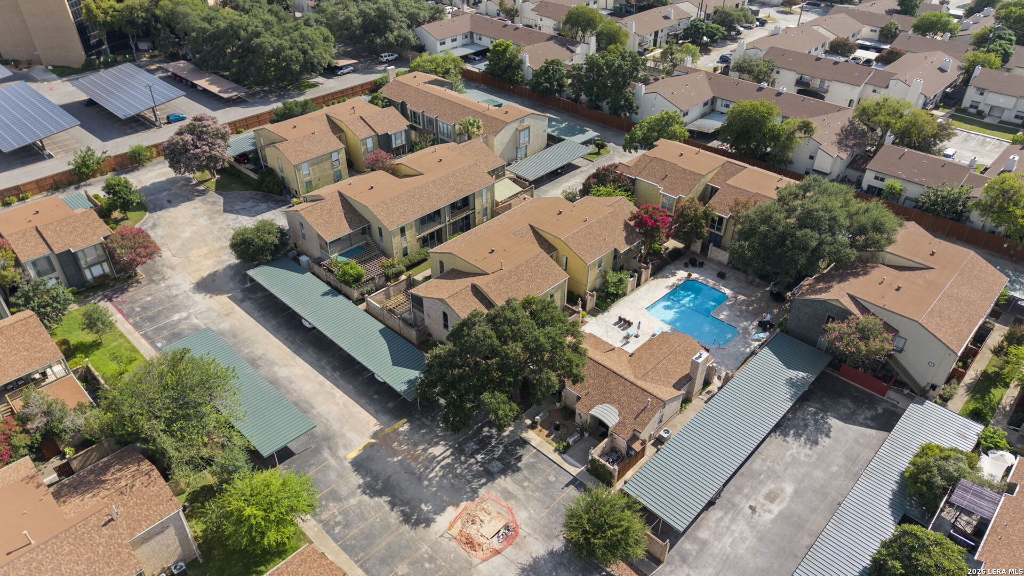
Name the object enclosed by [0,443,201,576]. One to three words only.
building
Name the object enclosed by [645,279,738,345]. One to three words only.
swimming pool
